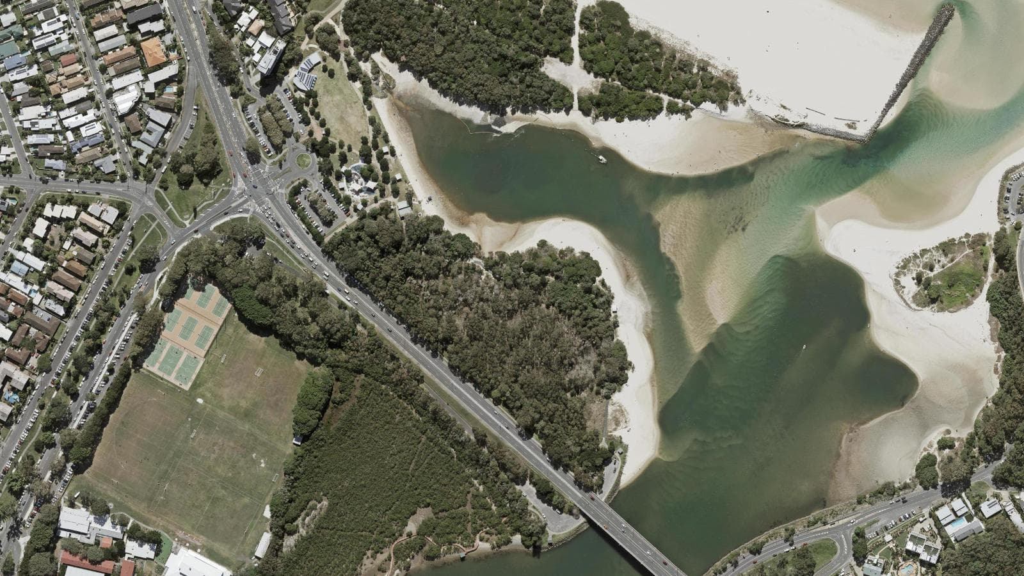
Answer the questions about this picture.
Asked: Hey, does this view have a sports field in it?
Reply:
Yes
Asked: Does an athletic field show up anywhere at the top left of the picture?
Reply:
No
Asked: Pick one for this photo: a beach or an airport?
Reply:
beach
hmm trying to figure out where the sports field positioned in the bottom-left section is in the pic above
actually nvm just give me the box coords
[63,307,307,571]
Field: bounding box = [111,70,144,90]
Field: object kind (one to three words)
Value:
house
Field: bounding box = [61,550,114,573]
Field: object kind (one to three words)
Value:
building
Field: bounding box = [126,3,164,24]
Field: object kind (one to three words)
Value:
house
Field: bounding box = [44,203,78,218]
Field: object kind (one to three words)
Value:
building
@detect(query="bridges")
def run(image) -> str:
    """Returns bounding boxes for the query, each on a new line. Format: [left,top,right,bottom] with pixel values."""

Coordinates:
[578,494,689,576]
